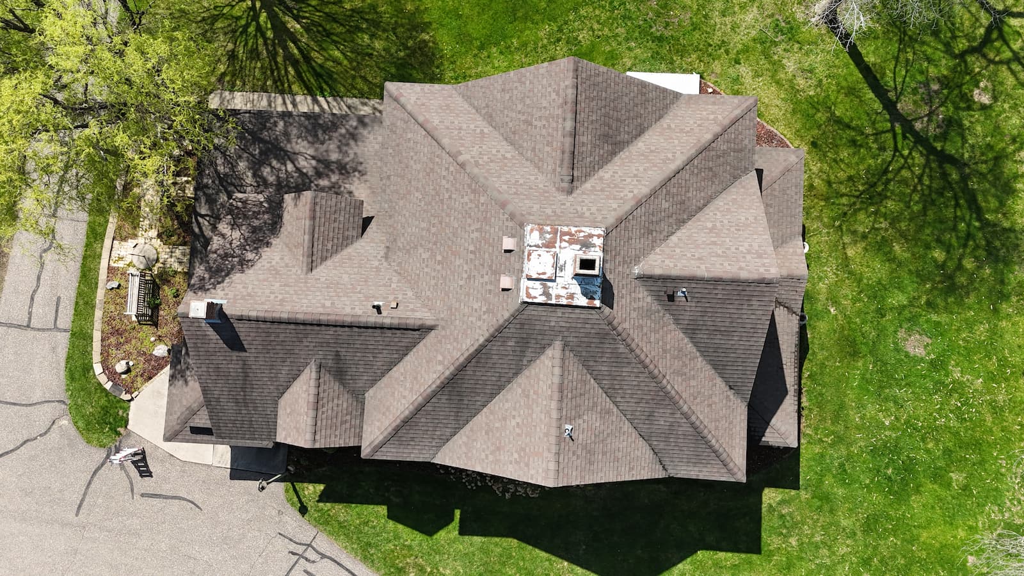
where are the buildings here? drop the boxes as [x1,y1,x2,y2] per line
[163,54,814,488]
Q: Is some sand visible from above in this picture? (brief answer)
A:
No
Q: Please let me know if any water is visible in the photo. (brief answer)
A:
No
